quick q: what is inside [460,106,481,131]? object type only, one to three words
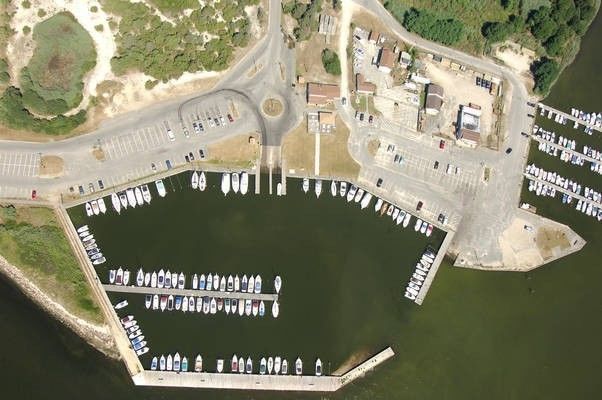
building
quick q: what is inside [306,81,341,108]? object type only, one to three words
building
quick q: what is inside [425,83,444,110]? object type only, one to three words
house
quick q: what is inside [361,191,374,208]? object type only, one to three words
boat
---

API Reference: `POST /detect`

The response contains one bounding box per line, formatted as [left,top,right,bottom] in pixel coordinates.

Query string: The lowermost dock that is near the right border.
[523,172,602,209]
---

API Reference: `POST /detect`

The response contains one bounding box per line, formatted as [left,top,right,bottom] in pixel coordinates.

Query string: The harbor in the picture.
[56,106,587,374]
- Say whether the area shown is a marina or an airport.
marina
